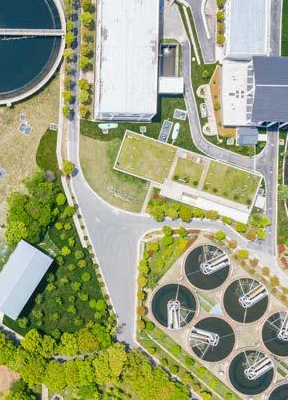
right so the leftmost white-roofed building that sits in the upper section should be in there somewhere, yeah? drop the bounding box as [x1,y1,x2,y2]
[97,0,160,120]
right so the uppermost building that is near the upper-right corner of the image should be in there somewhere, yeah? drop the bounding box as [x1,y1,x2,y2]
[226,0,270,62]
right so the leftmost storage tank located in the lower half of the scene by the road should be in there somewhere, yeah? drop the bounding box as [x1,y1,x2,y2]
[147,280,200,333]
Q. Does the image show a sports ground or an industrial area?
industrial area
